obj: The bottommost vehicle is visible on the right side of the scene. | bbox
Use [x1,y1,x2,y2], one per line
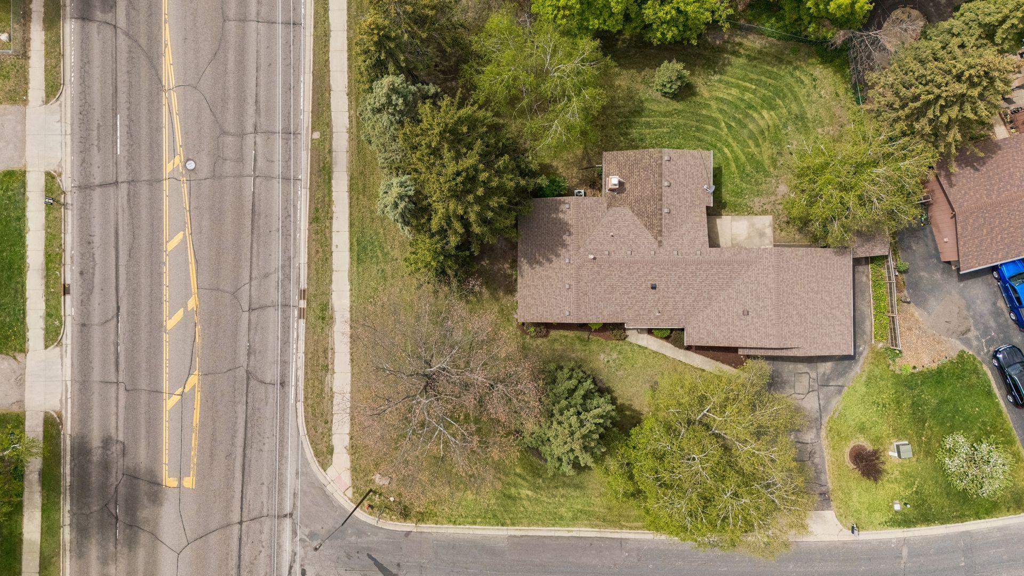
[992,344,1024,409]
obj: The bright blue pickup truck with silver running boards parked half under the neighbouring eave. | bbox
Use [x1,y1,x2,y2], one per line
[990,260,1024,333]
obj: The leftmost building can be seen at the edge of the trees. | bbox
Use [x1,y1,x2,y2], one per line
[518,147,852,356]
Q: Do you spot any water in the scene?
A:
No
